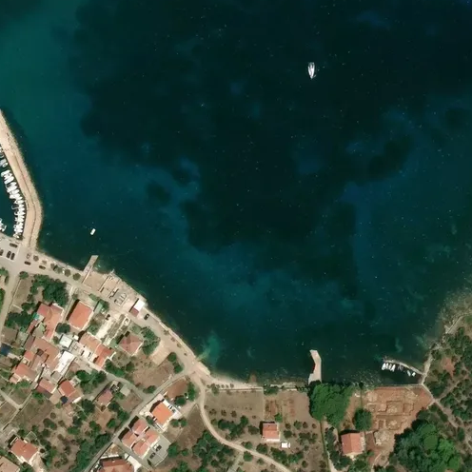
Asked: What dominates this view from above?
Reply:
water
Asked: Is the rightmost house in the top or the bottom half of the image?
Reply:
bottom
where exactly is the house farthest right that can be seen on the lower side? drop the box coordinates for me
[340,431,366,457]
